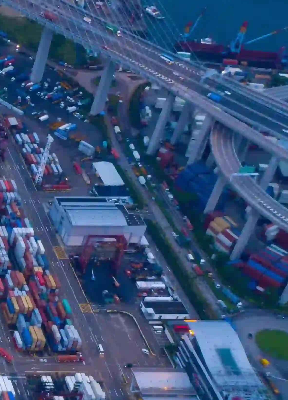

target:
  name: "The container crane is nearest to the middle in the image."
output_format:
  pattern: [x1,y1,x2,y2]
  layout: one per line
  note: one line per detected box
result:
[72,221,127,259]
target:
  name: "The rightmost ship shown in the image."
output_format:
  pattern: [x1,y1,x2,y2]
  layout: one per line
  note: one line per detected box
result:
[219,15,288,68]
